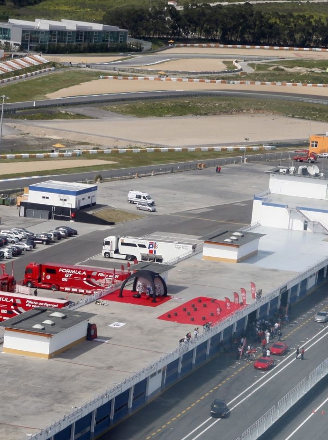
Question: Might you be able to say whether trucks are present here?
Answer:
Yes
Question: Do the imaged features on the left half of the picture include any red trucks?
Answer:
Yes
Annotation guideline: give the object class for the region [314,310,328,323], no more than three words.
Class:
vehicle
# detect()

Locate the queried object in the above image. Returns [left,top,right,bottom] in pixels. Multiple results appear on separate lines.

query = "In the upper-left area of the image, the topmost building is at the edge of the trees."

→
[0,16,134,51]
